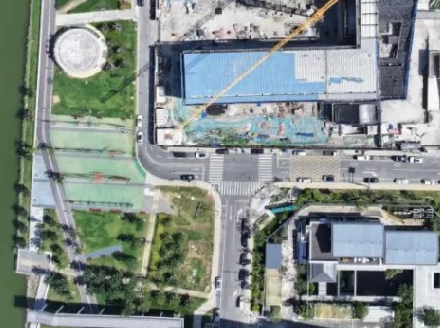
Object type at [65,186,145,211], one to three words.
sports court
